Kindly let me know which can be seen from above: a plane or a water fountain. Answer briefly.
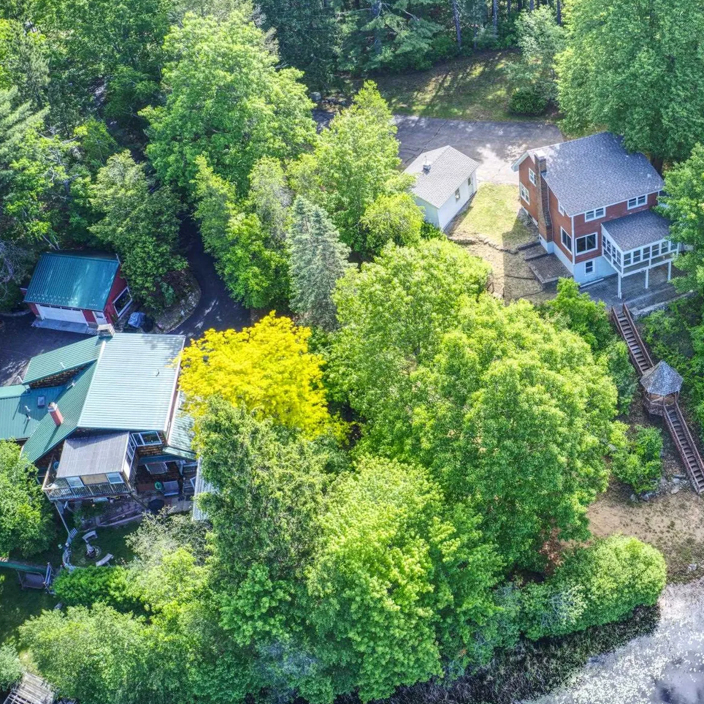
water fountain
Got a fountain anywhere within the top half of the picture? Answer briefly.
No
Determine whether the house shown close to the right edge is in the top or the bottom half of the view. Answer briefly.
top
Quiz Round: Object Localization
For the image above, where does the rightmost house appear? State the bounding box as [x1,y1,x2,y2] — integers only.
[512,127,682,298]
